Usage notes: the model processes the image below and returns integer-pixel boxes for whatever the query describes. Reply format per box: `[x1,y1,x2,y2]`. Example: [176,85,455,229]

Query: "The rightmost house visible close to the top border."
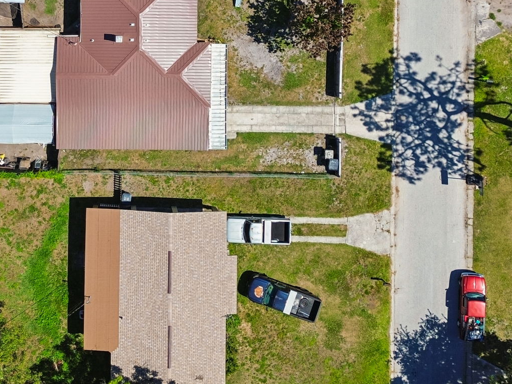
[56,0,218,150]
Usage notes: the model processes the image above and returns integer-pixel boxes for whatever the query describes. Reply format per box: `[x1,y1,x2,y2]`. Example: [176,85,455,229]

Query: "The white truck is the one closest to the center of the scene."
[226,213,294,246]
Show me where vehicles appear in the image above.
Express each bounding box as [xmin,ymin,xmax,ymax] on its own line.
[226,213,294,246]
[241,271,320,321]
[453,267,488,343]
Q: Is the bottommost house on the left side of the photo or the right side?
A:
left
